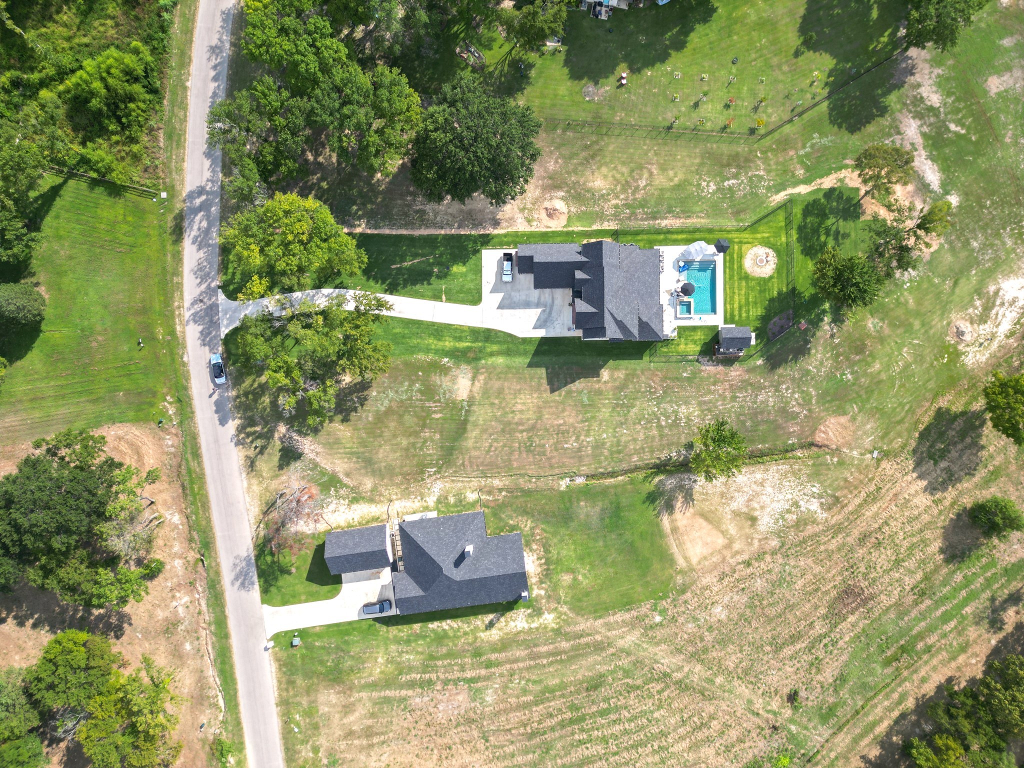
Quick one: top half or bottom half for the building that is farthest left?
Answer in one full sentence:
The building that is farthest left is in the bottom half of the image.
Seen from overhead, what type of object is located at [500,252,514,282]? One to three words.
vehicle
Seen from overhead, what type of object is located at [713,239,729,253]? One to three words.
umbrella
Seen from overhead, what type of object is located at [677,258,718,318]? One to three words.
swimming pool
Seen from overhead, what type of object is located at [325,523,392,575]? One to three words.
building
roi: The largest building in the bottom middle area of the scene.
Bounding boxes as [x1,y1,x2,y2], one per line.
[392,510,530,616]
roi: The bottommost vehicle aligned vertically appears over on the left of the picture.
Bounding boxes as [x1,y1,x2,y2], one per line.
[207,353,226,385]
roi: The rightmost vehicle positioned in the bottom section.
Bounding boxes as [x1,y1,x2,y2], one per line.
[362,602,389,616]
